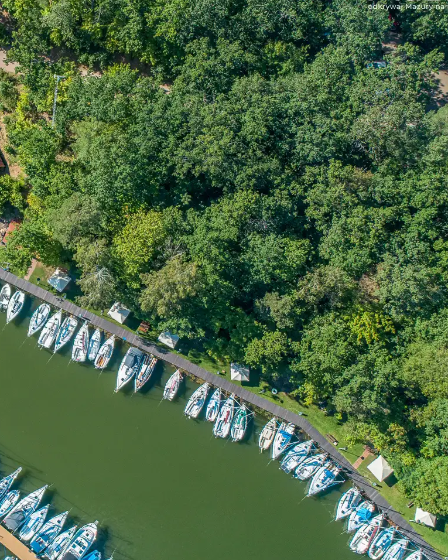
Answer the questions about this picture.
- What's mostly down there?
trees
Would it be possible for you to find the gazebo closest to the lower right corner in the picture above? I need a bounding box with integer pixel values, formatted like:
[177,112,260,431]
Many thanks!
[411,505,436,529]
